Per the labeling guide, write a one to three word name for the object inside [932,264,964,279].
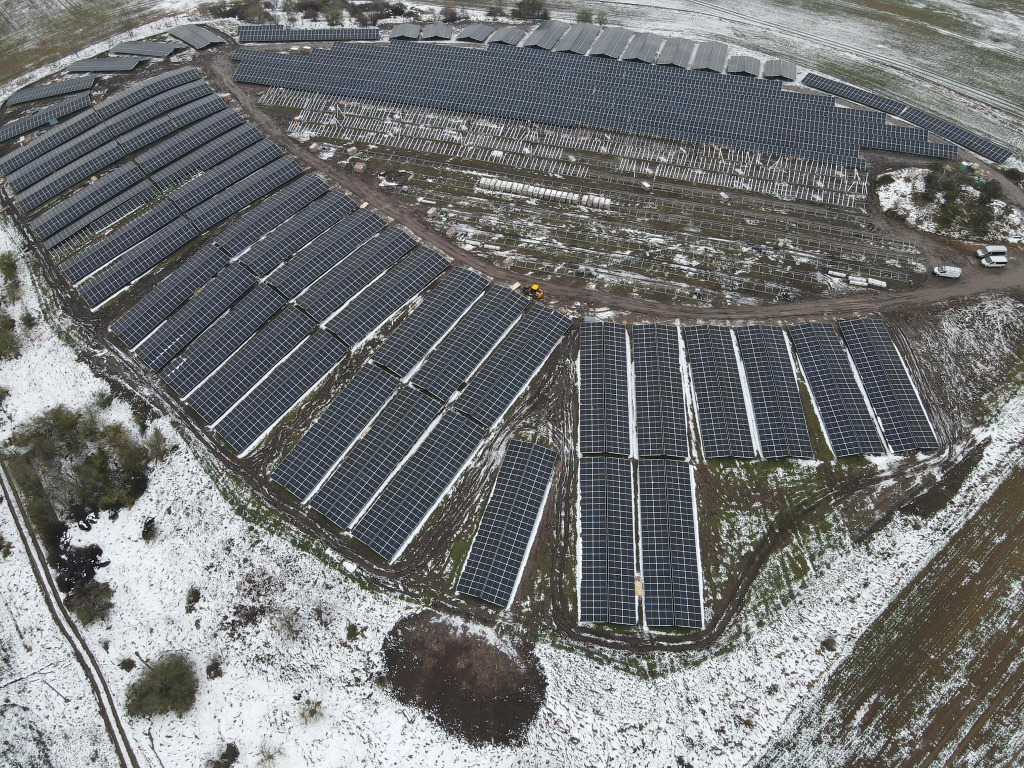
vehicle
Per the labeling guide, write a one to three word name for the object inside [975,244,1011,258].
vehicle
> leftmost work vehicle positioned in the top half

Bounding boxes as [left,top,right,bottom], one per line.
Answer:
[522,283,545,300]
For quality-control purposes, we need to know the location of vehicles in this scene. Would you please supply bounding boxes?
[975,244,1011,258]
[522,283,545,300]
[932,264,964,279]
[978,255,1010,268]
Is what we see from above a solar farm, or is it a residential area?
solar farm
